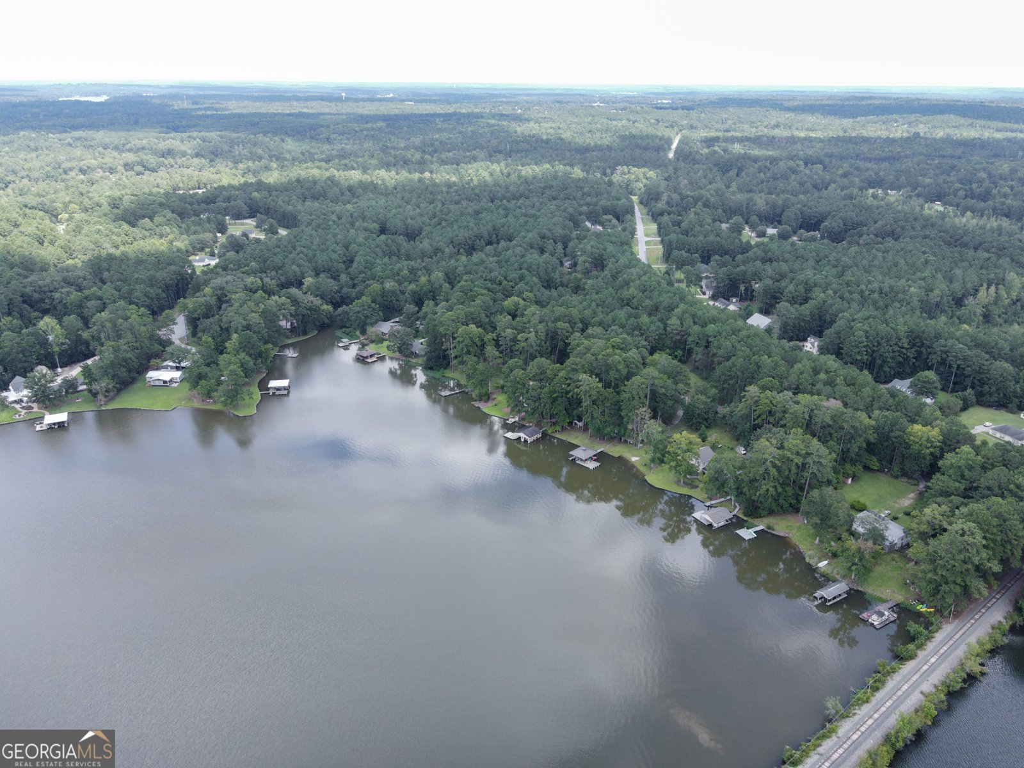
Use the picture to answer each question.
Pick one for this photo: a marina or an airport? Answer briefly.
marina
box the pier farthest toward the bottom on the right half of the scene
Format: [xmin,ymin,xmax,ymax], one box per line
[859,599,900,631]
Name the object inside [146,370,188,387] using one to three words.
house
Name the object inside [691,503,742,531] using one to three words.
building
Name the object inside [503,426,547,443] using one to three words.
building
